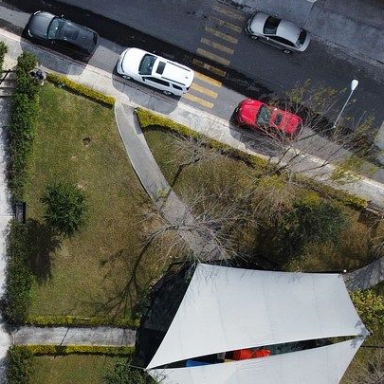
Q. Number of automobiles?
four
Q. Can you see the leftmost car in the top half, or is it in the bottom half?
top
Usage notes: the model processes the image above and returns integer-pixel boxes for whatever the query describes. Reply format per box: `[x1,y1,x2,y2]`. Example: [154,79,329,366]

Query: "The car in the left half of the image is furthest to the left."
[29,9,101,60]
